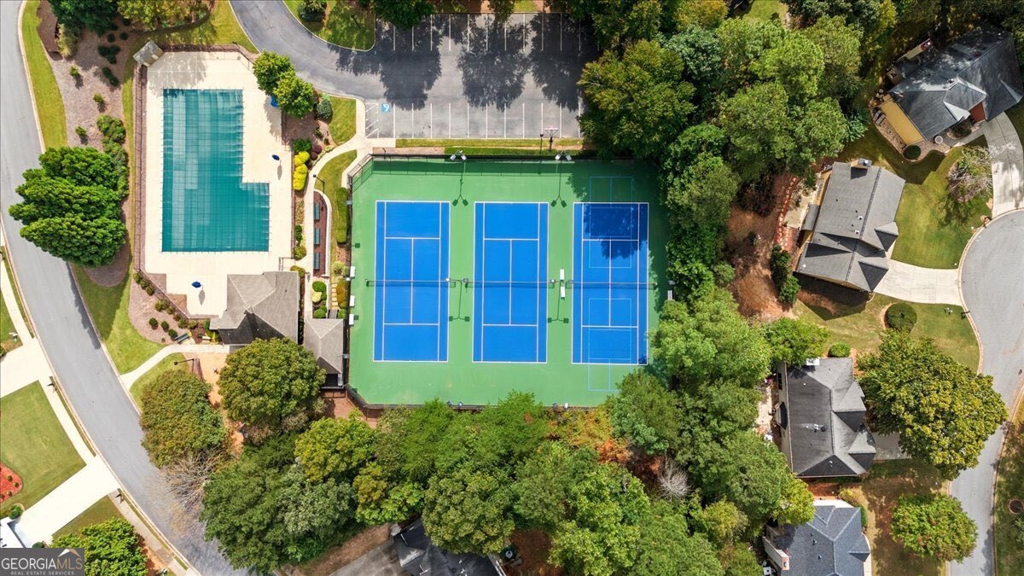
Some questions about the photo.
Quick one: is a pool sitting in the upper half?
Yes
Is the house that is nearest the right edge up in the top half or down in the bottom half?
top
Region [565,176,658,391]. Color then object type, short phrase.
blue tennis court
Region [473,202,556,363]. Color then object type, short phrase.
blue tennis court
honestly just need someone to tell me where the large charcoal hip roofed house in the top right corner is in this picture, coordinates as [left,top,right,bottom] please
[865,16,1024,151]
